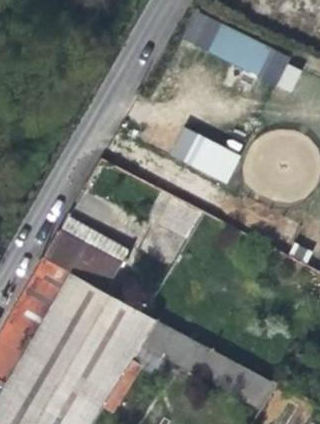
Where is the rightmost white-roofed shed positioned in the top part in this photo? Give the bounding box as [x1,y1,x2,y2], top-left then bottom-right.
[278,64,302,92]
